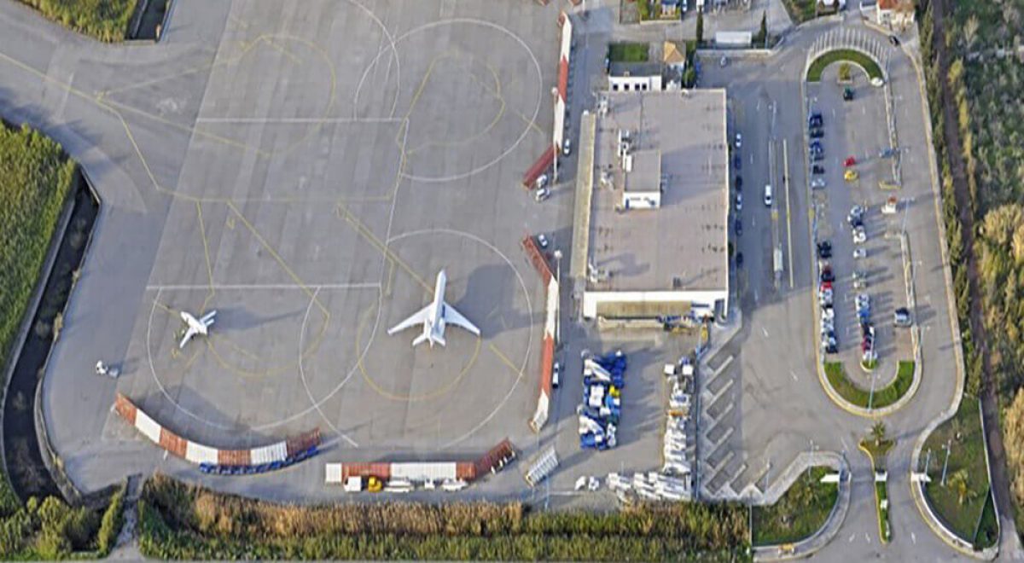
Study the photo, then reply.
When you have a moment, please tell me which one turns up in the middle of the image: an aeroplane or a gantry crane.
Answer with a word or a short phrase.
aeroplane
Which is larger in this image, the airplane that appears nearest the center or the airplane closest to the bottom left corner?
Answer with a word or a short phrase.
the airplane that appears nearest the center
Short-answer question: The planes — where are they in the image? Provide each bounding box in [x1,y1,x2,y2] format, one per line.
[173,312,219,345]
[385,271,481,345]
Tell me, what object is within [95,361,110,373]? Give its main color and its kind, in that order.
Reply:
white vehicle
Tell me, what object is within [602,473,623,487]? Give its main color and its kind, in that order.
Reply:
white vehicle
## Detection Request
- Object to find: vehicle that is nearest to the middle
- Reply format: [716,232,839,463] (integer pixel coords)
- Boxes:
[537,236,549,248]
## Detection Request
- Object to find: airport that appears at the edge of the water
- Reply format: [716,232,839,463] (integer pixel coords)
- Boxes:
[0,0,727,509]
